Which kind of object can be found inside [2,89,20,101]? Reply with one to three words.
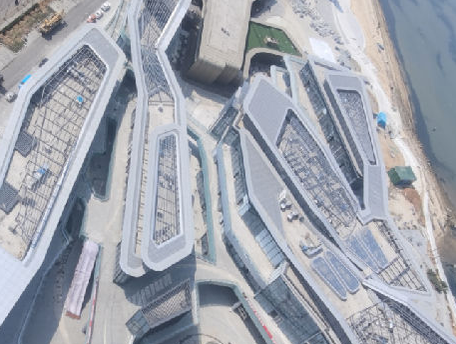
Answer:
vehicle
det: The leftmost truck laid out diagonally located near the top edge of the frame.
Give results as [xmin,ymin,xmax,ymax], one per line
[39,7,68,31]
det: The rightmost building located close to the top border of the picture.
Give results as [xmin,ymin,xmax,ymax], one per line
[183,0,252,90]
